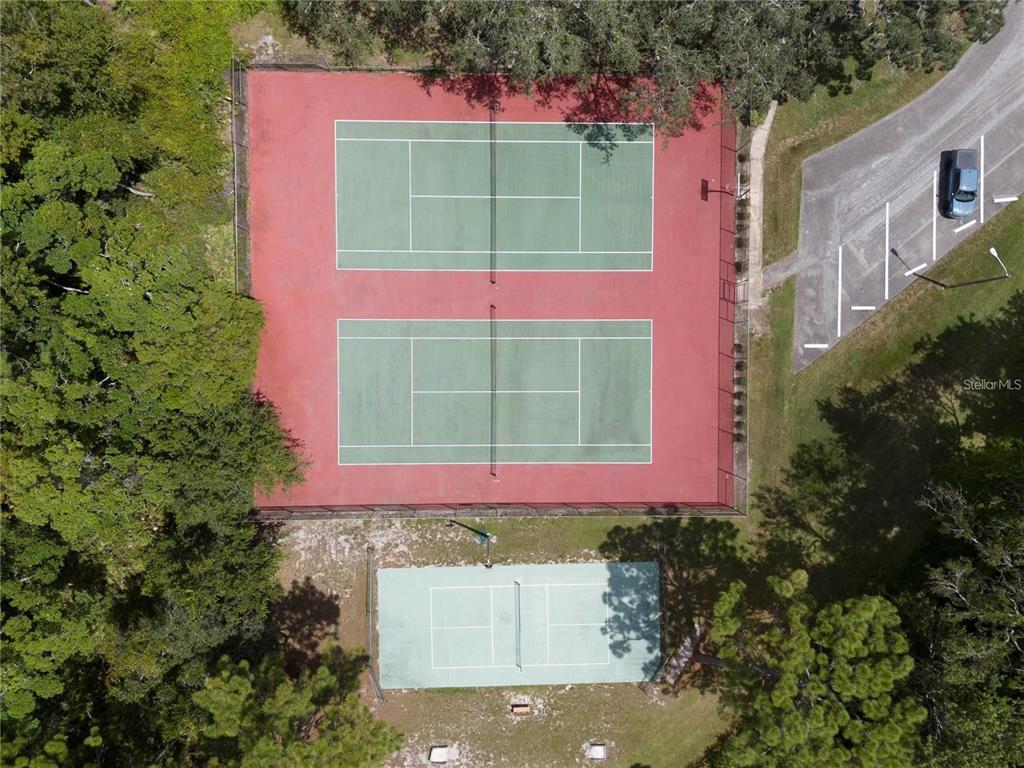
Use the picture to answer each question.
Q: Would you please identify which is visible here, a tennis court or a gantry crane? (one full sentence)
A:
There is a tennis court in the scene.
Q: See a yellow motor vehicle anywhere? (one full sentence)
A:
No, the frame has no yellow motor vehicle in it.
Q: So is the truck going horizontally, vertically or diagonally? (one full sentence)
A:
The truck runs vertically in the image.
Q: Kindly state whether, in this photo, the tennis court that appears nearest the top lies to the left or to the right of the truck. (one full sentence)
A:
The tennis court that appears nearest the top is to the left of the truck.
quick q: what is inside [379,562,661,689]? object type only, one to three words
sports court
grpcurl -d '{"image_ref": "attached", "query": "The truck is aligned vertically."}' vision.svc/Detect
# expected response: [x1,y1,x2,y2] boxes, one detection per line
[942,148,977,218]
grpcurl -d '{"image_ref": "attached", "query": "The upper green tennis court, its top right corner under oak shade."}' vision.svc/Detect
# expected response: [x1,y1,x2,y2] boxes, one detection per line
[249,71,738,295]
